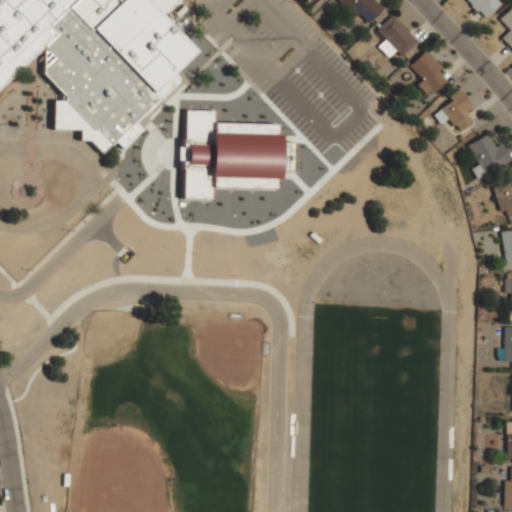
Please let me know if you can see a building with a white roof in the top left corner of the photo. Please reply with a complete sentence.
Yes, you'll find a building with a white roof in the top left corner of the photo.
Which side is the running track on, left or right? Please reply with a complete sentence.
It is on the right.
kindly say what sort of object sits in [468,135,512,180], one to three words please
house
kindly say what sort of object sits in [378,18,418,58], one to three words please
house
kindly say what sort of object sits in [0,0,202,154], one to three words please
building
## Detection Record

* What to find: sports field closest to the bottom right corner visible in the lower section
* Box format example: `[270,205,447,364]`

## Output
[308,302,442,512]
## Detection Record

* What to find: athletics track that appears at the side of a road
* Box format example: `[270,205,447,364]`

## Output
[292,236,457,512]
